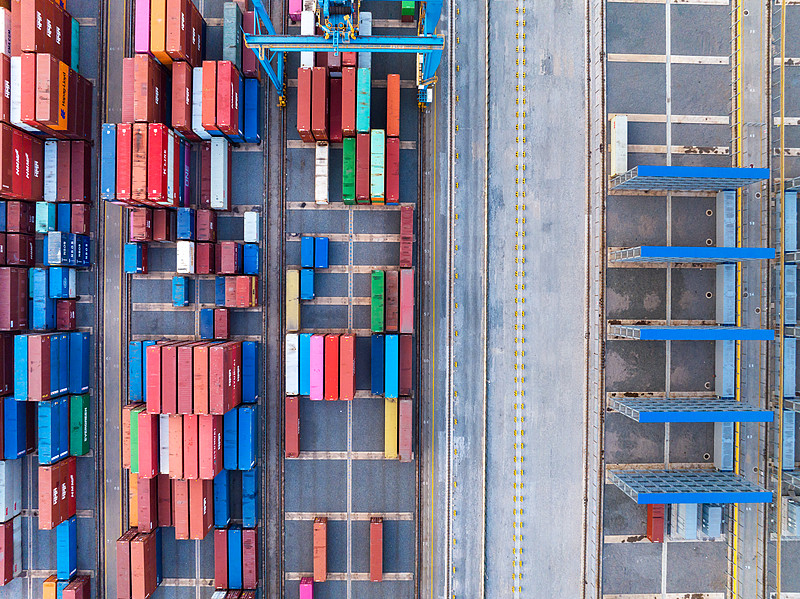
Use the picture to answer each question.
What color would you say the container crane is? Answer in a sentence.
The container crane is blue.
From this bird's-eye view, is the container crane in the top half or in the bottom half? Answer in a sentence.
Seen from above, the container crane lies in the top half of the view.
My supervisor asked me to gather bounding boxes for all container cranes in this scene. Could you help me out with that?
[245,0,448,108]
